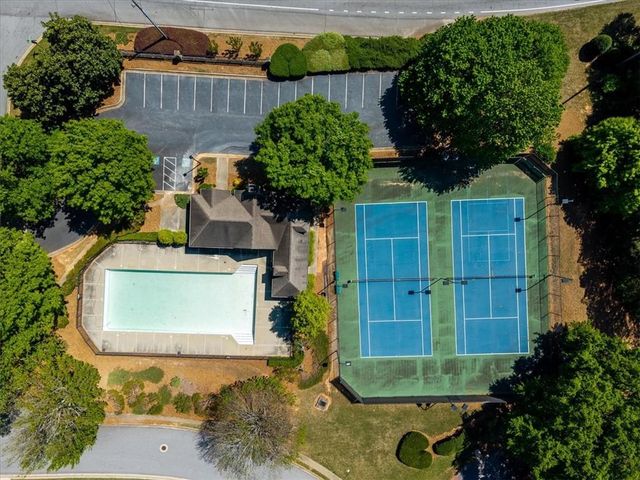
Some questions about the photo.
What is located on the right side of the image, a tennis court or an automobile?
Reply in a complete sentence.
The one visible on the right side of the image is a tennis court.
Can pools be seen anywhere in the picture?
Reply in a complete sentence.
Yes, the photo shows a pool.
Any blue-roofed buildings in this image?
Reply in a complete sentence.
No, the picture doesn't show any blue-roofed building.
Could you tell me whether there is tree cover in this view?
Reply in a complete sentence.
Yes, tree cover shows up in the scene.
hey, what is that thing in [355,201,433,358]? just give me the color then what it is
blue tennis court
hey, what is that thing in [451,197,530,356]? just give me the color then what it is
blue tennis court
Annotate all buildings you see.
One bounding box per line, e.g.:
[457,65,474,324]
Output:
[190,189,309,298]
